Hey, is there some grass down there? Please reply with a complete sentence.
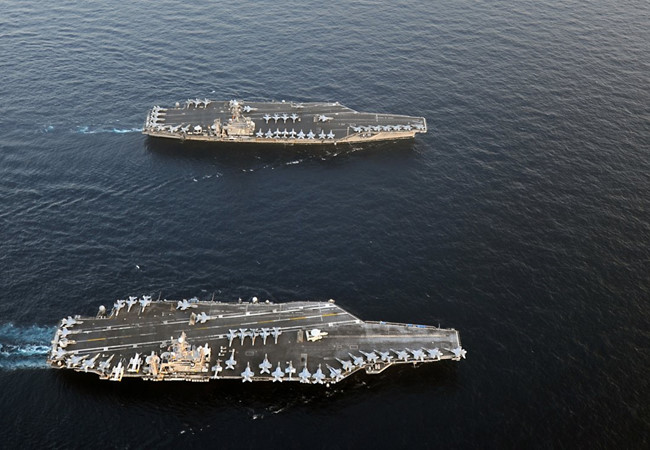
No, there's no grass in this view.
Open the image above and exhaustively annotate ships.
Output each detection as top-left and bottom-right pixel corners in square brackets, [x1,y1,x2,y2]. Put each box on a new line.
[143,95,426,146]
[46,296,461,387]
